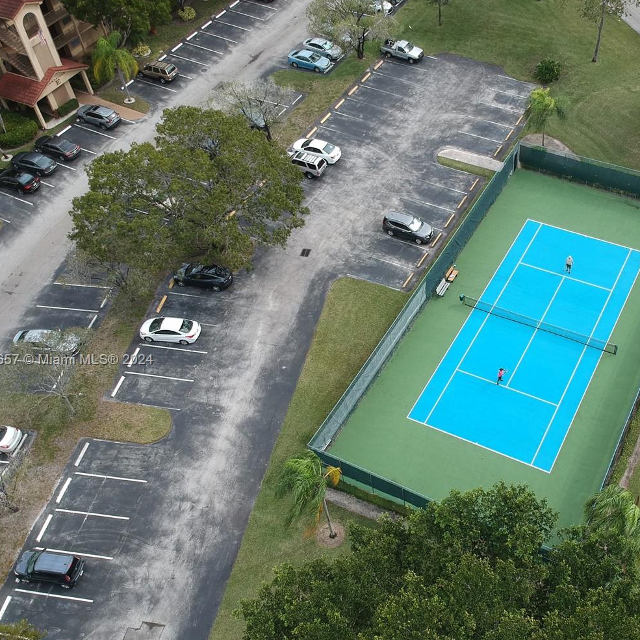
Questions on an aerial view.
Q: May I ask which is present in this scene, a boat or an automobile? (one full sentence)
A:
Visible in the photo is an automobile.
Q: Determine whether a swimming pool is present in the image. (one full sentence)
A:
No, I can't see a single swimming pool in this photo.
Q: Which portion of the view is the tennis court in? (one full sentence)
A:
The tennis court is in the right part of the image.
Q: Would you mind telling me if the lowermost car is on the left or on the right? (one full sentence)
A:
You can find the lowermost car on the left side of the picture.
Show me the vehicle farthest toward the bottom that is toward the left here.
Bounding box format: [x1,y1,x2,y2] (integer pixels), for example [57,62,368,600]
[12,548,89,589]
